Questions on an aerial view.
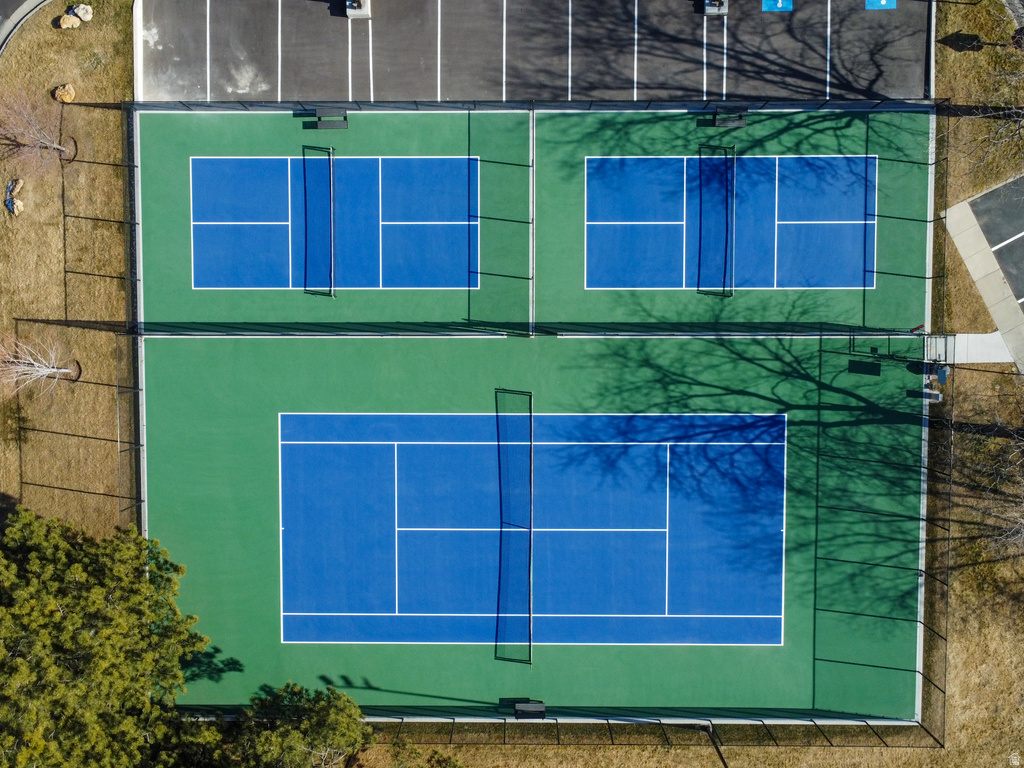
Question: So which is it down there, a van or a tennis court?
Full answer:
It is a tennis court that can be seen here.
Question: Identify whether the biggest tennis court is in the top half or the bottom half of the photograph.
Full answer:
The bottom half of the photo is where the biggest tennis court is.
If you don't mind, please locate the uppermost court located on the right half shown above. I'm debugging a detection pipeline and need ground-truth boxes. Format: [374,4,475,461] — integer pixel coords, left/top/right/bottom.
[535,112,929,335]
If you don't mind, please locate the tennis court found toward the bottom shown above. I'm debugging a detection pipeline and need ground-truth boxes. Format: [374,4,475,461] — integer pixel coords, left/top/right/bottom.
[144,336,924,717]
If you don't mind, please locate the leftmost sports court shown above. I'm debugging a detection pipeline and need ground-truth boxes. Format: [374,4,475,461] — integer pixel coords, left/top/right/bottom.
[140,112,530,335]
